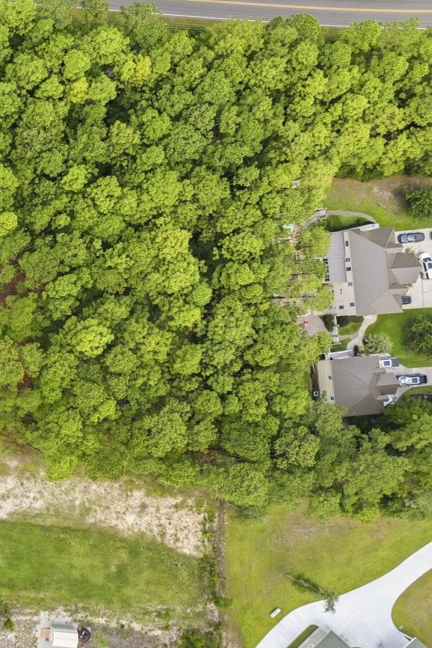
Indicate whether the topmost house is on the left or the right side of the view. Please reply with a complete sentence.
The topmost house appears in the right half of the scene.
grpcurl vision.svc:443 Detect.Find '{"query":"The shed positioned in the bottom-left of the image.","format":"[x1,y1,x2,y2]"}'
[47,623,78,648]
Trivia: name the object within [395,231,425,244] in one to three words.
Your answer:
vehicle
